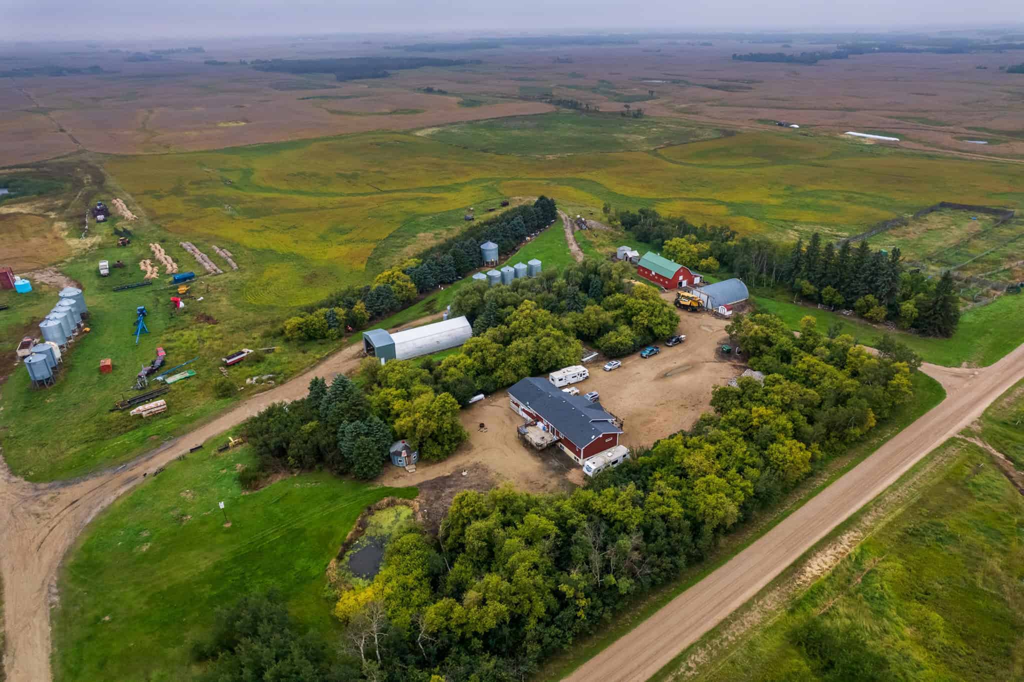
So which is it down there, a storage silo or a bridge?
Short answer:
storage silo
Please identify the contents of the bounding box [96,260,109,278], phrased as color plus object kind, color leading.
white vehicle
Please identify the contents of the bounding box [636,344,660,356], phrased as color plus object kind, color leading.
blue vehicle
